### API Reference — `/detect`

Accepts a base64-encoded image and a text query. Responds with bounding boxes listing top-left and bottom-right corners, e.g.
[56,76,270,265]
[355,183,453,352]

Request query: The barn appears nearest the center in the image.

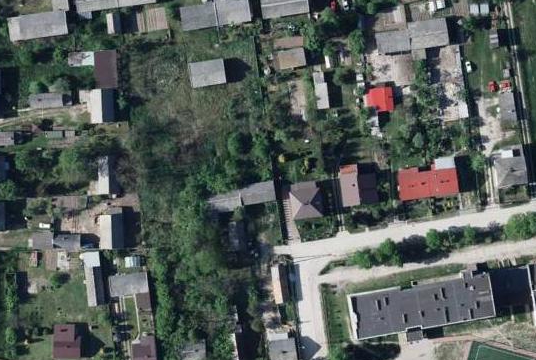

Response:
[242,181,276,205]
